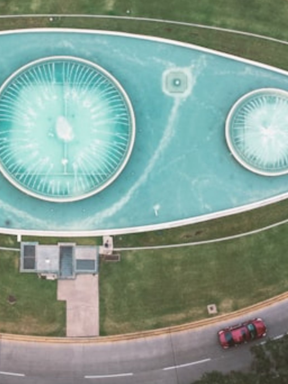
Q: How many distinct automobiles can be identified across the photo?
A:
1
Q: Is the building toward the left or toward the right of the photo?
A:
left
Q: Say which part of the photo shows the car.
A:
bottom right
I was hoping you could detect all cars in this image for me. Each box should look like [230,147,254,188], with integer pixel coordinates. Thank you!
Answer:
[218,320,266,348]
